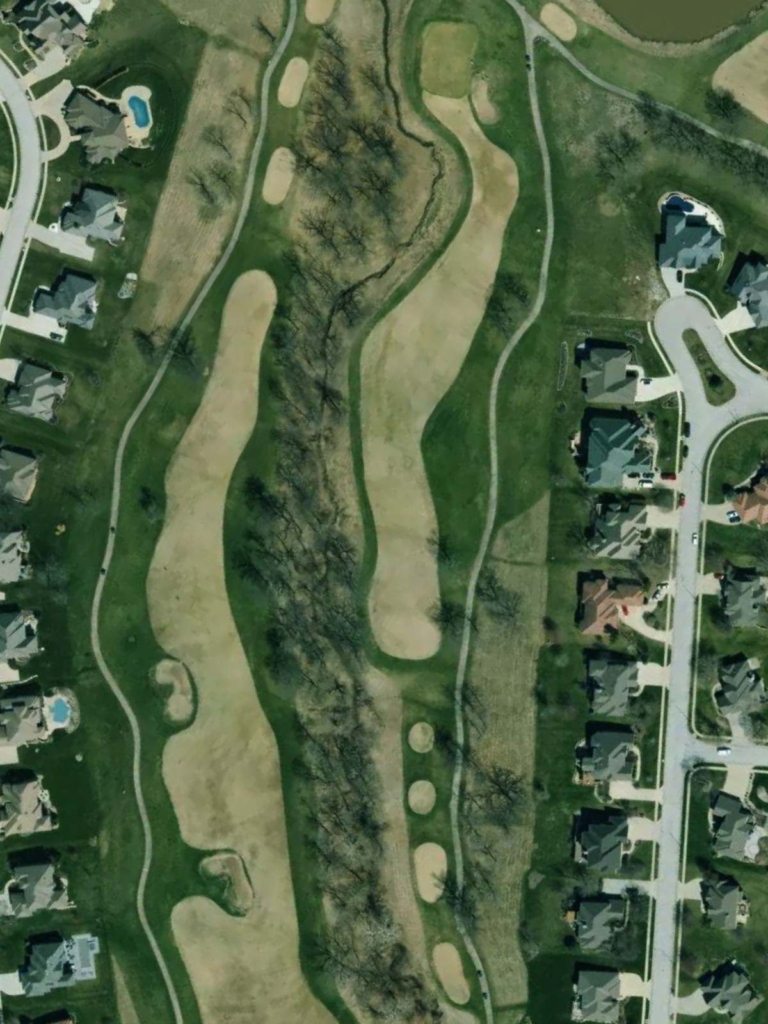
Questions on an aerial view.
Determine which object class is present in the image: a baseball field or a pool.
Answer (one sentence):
There is a pool in the scene.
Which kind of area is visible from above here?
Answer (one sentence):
The picture captures a golf course.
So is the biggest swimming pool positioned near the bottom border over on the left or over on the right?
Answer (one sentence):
The biggest swimming pool positioned near the bottom border appears in the left half of the scene.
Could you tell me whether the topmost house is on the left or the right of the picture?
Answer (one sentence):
The topmost house is on the left side of the image.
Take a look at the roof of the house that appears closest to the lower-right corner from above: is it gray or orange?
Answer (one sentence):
The color of the roof of the house that appears closest to the lower-right corner is gray.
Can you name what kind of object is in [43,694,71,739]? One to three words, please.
swimming pool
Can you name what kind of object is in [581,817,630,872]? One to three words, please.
house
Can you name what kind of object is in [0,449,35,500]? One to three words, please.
house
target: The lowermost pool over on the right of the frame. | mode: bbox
[660,192,725,236]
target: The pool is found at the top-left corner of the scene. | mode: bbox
[120,85,152,147]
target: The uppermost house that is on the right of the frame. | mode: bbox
[659,215,722,266]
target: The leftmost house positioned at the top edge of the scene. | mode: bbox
[13,0,86,56]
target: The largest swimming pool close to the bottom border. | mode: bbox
[65,934,99,980]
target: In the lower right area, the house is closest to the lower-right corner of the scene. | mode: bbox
[704,970,752,1013]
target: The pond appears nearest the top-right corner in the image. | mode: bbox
[593,0,766,44]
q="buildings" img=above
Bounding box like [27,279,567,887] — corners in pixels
[707,879,739,930]
[716,660,767,712]
[595,504,648,558]
[61,90,127,164]
[732,261,768,328]
[726,576,767,630]
[581,348,637,403]
[579,972,621,1023]
[6,363,66,420]
[0,612,38,664]
[580,900,624,949]
[62,187,127,240]
[0,530,21,583]
[0,696,43,748]
[10,865,67,920]
[589,661,639,717]
[713,797,755,861]
[582,733,634,782]
[578,579,645,631]
[704,970,752,1013]
[659,215,722,266]
[19,943,75,998]
[586,418,652,487]
[13,0,86,56]
[734,476,768,525]
[0,782,51,838]
[35,273,99,328]
[581,817,630,872]
[0,449,35,500]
